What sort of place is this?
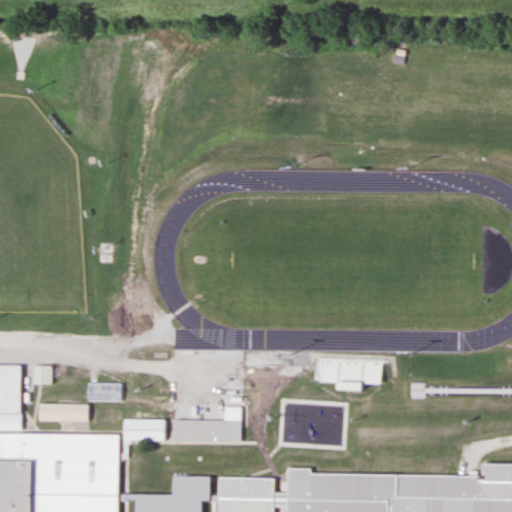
sports ground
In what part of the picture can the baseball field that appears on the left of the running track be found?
left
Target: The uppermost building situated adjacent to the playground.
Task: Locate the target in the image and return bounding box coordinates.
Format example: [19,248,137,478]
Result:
[314,358,383,393]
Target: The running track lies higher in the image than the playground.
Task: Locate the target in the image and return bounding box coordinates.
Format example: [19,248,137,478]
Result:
[154,170,512,351]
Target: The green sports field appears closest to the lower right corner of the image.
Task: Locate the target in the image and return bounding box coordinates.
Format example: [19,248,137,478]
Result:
[176,192,512,329]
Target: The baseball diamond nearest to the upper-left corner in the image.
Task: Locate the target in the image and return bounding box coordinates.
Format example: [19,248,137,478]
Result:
[0,93,88,314]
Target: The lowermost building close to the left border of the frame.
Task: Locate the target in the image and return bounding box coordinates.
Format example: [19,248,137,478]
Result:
[0,434,120,512]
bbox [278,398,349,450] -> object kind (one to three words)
playground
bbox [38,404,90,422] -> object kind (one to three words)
shed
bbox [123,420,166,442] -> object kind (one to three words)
building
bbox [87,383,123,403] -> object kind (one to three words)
greenhouse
